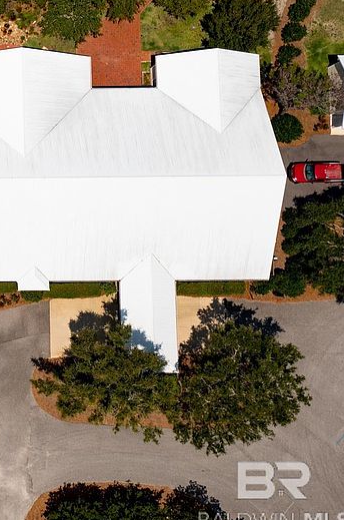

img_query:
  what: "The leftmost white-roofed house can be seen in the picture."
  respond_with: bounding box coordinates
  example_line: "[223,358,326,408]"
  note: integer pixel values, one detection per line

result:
[0,47,286,373]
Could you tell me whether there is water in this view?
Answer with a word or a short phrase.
No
